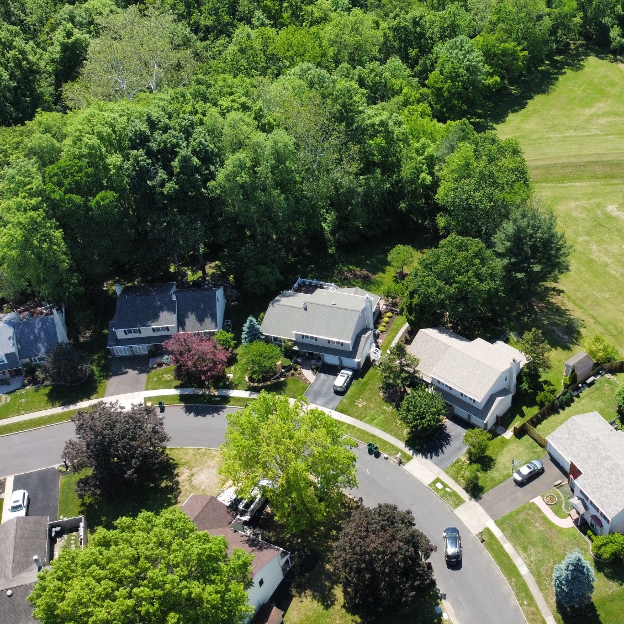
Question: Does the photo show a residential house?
Yes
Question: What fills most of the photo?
trees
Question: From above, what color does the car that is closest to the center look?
white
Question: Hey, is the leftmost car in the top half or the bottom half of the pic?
bottom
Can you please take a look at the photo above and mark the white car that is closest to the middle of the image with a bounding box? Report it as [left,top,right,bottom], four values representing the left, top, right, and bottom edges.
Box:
[330,367,353,393]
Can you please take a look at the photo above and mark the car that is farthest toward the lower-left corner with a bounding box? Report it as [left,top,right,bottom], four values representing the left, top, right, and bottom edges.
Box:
[7,486,31,519]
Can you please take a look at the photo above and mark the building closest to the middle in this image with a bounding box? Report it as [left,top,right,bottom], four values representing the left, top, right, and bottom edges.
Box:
[256,276,383,369]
